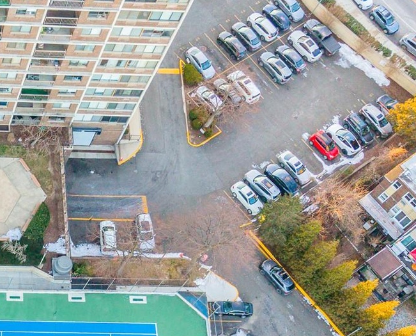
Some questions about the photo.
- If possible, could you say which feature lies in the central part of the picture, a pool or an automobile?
automobile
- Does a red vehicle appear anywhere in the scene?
Yes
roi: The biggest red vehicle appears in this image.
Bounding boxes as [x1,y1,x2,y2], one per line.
[307,132,340,161]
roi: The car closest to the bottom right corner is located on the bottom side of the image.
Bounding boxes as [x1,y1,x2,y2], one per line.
[258,260,295,296]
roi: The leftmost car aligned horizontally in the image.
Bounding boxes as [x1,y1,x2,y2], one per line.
[210,299,252,318]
